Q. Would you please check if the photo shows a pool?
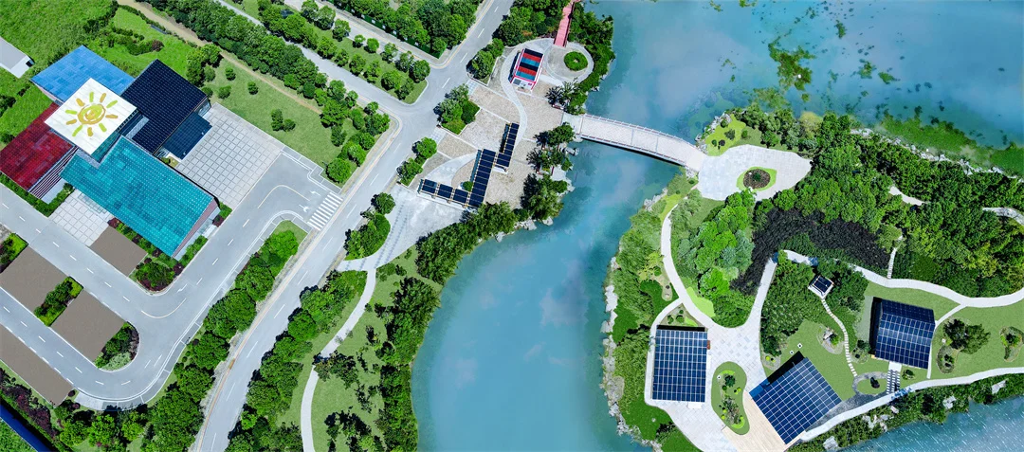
No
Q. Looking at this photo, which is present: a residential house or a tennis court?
residential house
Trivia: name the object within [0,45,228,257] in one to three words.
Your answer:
building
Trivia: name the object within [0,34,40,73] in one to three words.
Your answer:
shed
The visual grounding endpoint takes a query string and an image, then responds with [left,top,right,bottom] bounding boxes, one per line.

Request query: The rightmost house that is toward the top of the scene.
[510,45,547,95]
